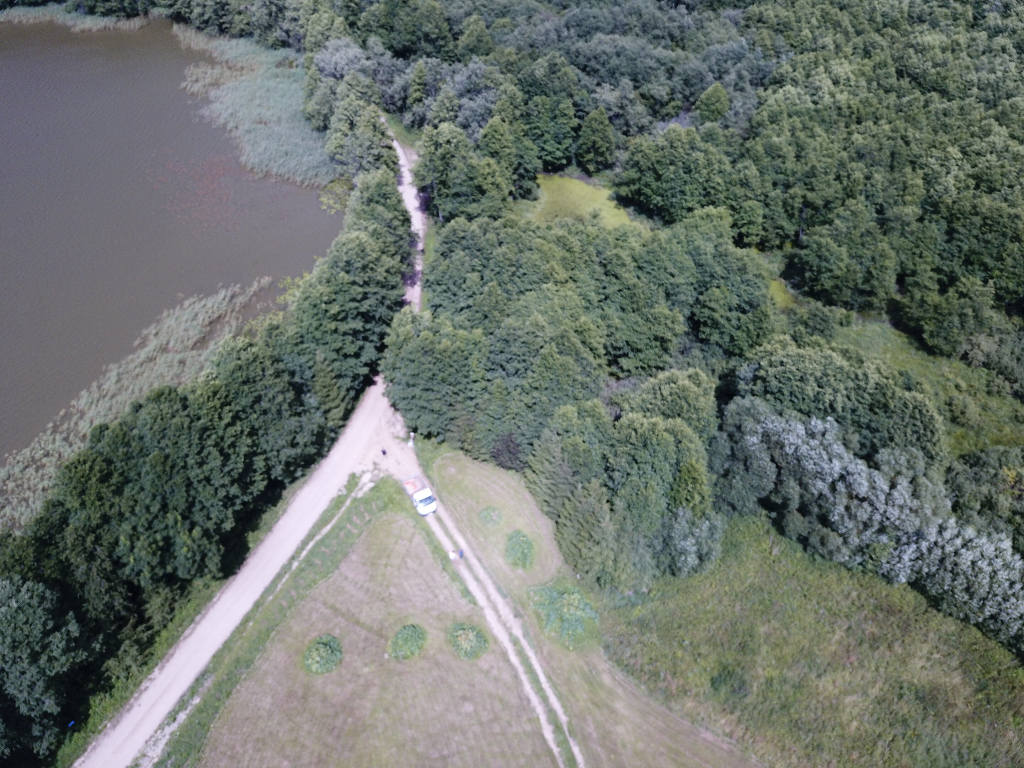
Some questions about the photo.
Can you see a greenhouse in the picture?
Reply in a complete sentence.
No, there is no greenhouse in the image.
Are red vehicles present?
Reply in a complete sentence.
No, no red vehicle is visible in the view.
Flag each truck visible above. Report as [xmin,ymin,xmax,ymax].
[403,472,434,517]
